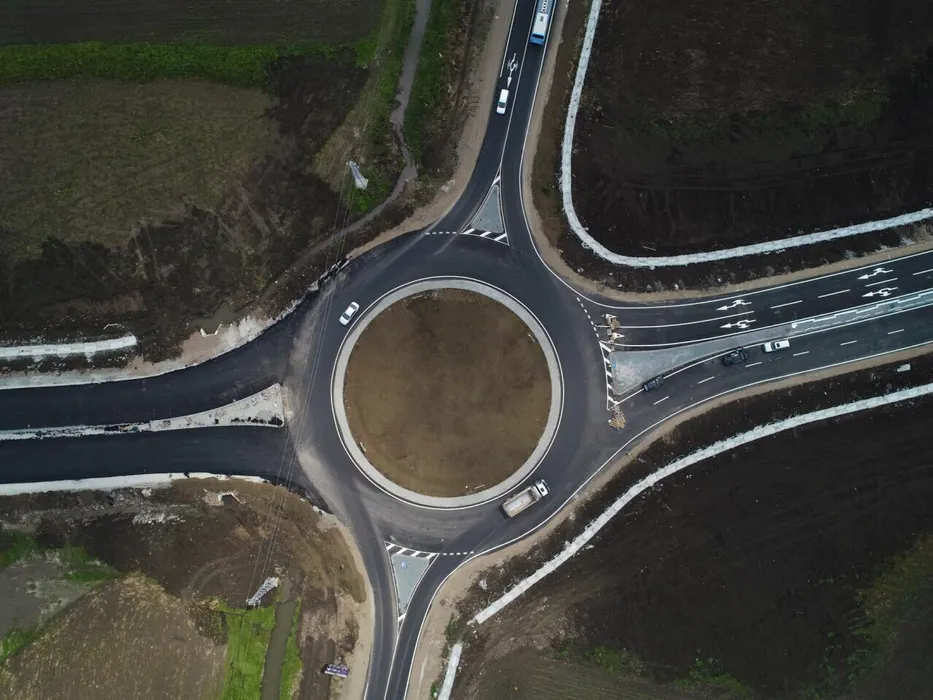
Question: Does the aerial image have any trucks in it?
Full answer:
Yes, looking at the shot, I can spot a truck.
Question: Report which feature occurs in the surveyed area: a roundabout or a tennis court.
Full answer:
Looking from above, you can make out a roundabout.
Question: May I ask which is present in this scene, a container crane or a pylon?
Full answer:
The one in the frame is a pylon.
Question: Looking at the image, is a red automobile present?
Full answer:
No, this view has no red automobile in it.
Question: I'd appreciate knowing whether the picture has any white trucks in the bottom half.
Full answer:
Yes, a white truck is visible in the bottom half.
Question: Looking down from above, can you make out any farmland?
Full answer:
Yes, farmland can be seen from above here.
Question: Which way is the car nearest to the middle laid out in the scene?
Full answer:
From this overhead view, the car nearest to the middle appears to run diagonally.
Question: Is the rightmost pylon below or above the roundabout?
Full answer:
Looking at the scene, the rightmost pylon is located above the roundabout.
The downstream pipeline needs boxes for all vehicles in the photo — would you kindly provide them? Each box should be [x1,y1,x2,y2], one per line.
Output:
[722,348,749,365]
[495,89,508,115]
[339,301,360,326]
[641,374,665,392]
[531,0,555,46]
[761,339,788,354]
[501,479,551,517]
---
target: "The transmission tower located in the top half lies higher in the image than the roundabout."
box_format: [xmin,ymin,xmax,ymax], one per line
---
[345,162,370,191]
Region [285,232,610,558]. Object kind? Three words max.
roundabout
